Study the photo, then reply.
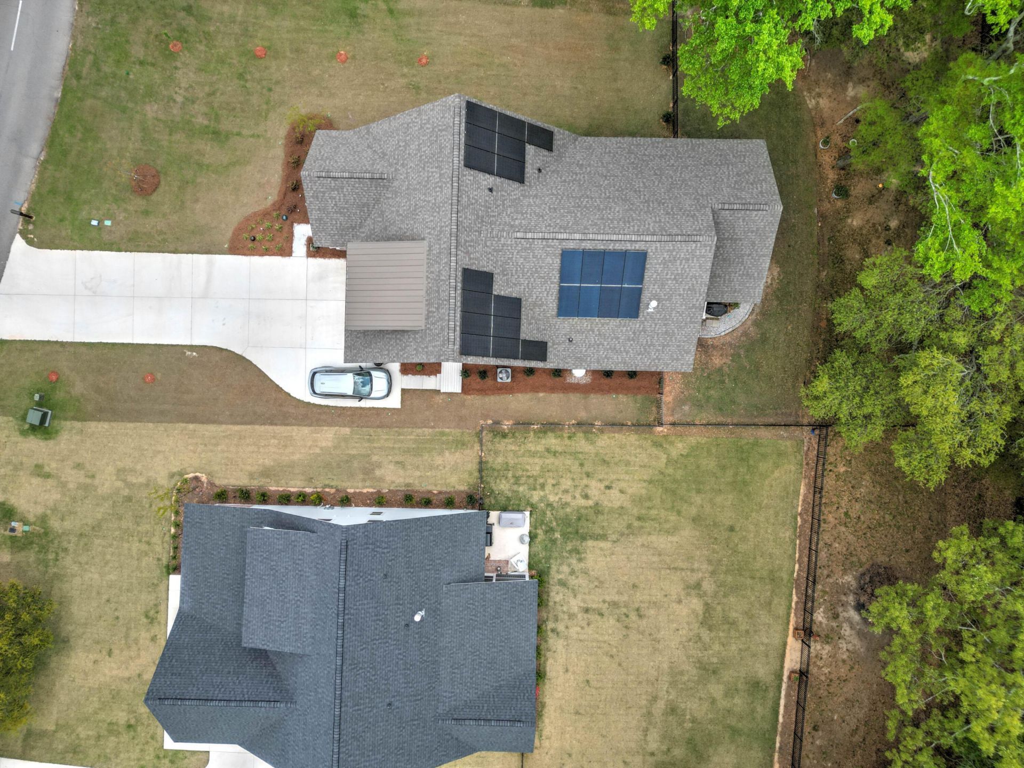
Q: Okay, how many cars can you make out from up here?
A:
1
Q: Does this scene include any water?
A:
No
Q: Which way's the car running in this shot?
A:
from left to right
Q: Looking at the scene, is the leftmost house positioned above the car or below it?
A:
below it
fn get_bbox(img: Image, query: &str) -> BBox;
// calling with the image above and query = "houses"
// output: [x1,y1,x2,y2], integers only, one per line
[301,93,784,371]
[143,502,539,768]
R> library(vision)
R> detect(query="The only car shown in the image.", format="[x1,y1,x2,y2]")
[308,363,394,403]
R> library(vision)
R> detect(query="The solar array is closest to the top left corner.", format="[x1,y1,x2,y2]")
[467,101,556,184]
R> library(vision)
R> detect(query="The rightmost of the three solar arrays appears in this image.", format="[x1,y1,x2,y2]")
[558,251,647,322]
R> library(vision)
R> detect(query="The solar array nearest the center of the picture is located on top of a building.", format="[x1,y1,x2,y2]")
[463,268,550,361]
